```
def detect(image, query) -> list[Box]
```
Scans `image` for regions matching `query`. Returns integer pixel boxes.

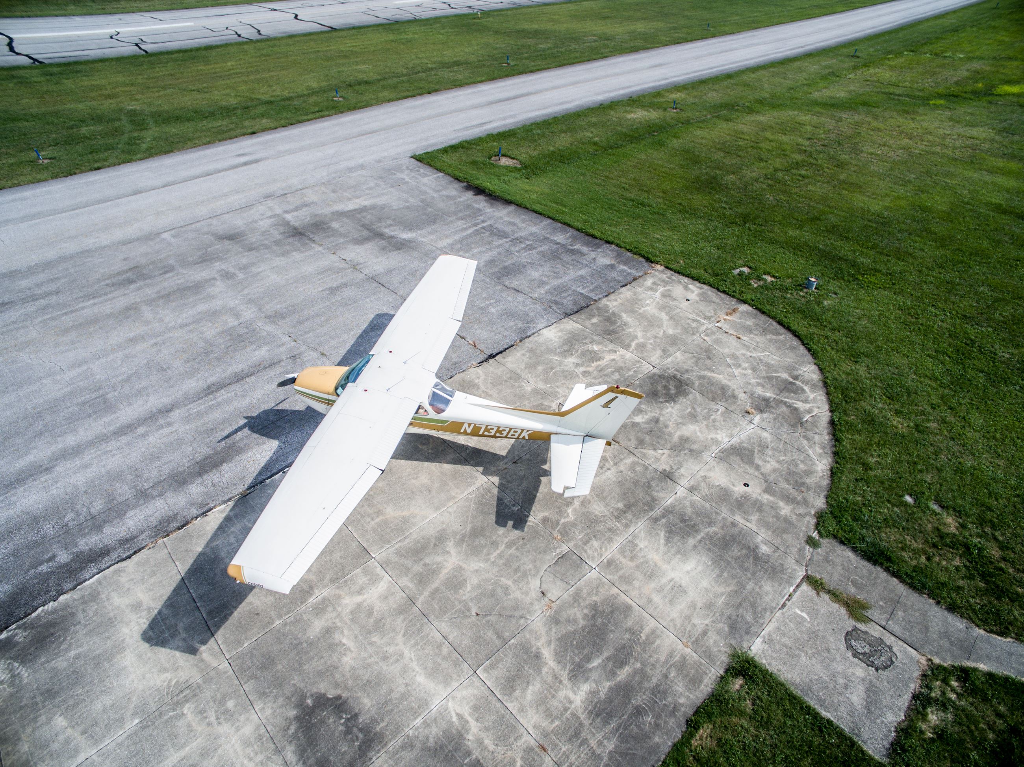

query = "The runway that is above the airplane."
[0,0,581,68]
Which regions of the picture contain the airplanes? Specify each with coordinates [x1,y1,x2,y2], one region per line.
[228,252,643,597]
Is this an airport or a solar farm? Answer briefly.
airport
